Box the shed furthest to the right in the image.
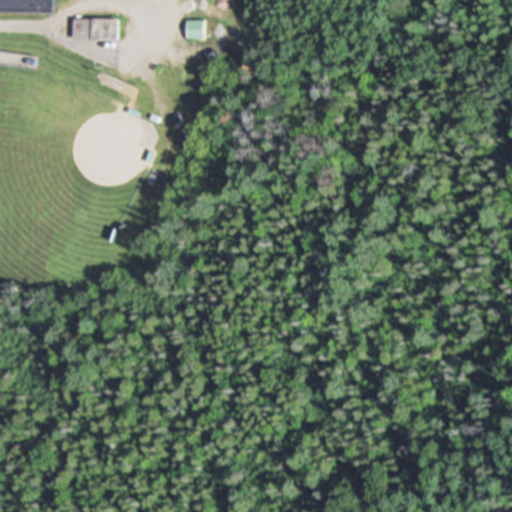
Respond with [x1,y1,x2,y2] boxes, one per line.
[187,20,207,40]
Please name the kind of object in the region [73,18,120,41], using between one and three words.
building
